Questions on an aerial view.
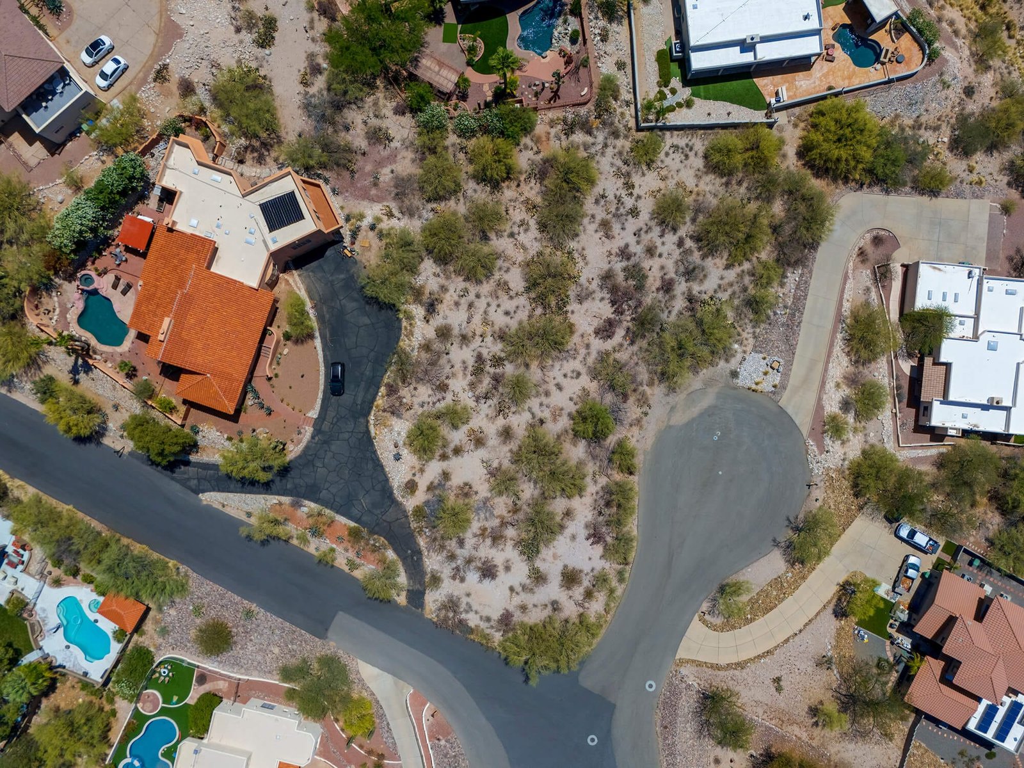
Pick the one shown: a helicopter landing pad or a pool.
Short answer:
pool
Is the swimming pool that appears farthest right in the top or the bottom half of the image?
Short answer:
top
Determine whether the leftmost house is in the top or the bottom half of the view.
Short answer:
top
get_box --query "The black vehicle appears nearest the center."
[328,361,345,396]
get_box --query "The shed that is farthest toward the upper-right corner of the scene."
[845,0,899,33]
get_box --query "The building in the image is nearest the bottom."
[173,689,328,768]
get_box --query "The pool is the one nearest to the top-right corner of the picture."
[832,22,882,68]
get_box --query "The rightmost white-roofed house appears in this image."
[901,261,1024,437]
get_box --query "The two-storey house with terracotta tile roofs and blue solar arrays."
[899,566,1024,753]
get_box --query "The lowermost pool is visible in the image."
[123,715,180,768]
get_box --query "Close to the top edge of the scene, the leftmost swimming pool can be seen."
[516,0,569,56]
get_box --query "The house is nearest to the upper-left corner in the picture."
[0,0,102,144]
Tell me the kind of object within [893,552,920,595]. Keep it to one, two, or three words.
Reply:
truck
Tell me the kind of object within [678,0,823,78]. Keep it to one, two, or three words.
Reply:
house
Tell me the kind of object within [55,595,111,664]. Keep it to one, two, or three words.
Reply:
swimming pool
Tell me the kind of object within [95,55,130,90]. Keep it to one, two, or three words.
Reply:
car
